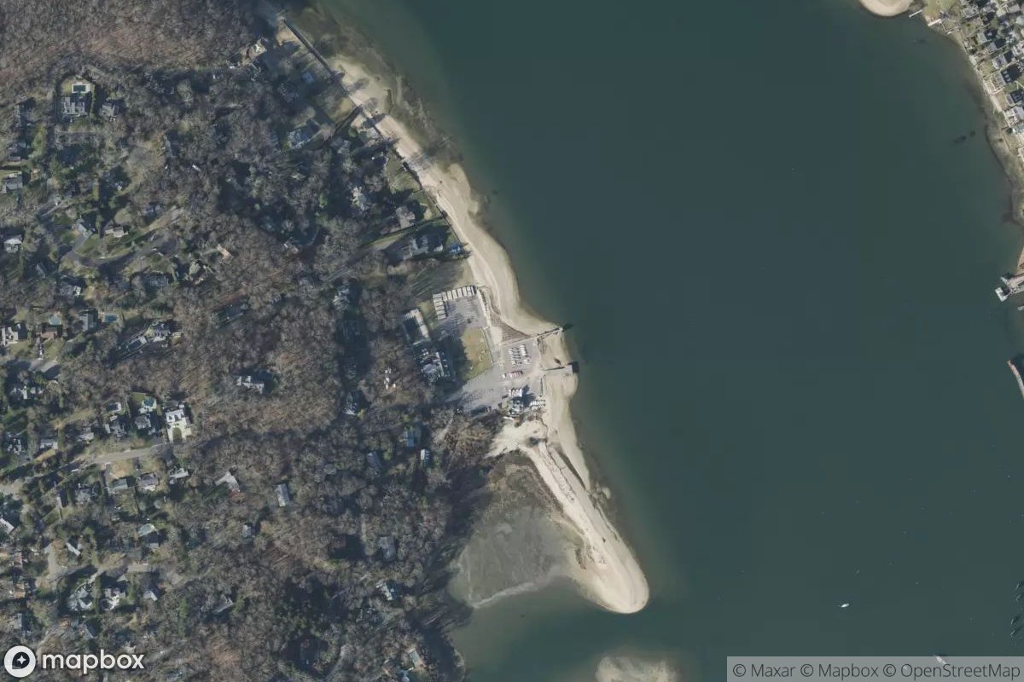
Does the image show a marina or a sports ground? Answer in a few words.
marina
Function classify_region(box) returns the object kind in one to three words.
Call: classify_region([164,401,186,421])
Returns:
house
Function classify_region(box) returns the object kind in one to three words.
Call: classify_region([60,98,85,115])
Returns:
house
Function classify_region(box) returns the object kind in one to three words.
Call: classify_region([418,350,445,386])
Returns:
building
